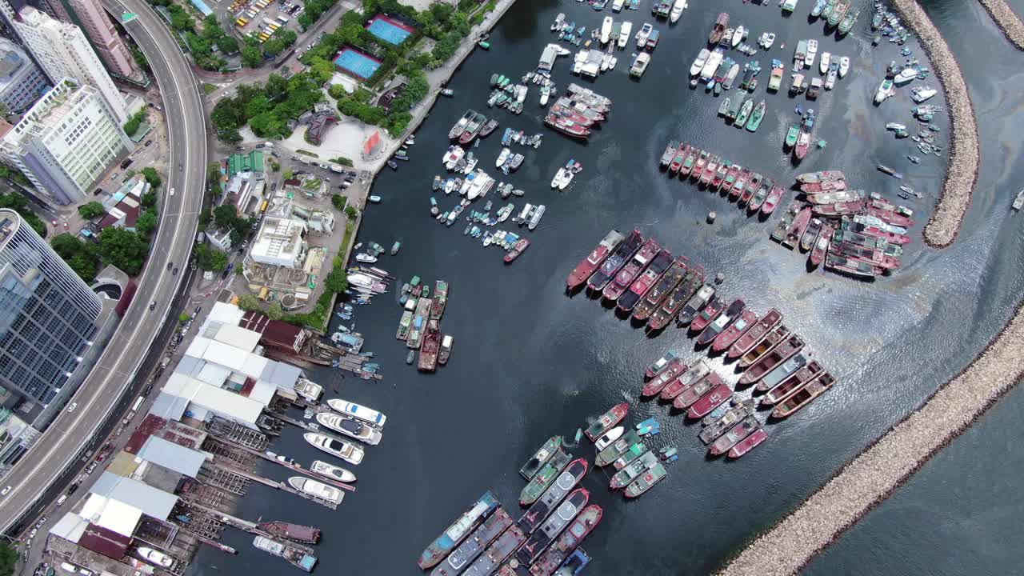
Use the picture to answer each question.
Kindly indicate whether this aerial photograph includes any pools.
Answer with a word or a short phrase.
No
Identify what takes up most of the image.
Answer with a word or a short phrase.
water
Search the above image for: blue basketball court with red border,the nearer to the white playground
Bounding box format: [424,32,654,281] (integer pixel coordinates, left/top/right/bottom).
[330,41,386,81]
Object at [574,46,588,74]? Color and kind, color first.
white boat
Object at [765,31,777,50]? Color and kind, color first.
white boat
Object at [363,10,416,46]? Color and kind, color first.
blue basketball court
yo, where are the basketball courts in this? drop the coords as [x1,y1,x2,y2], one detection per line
[330,41,386,81]
[363,10,416,46]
